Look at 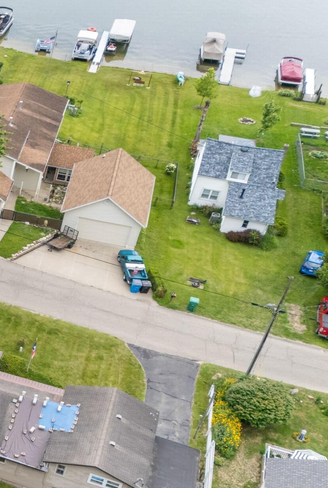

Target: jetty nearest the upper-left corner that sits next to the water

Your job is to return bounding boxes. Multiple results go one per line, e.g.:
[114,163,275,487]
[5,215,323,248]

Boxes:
[88,31,110,74]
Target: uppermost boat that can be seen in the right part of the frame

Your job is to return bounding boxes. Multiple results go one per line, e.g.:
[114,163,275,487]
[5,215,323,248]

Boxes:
[201,30,226,65]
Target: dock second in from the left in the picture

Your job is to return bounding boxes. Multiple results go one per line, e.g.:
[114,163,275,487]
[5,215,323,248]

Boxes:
[217,38,266,87]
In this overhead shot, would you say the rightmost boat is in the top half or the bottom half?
top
